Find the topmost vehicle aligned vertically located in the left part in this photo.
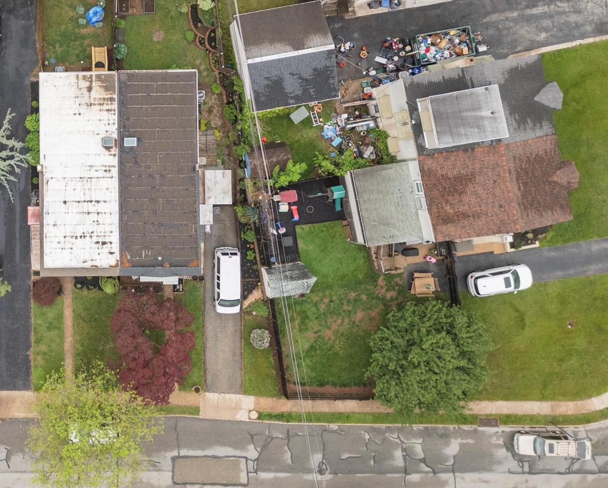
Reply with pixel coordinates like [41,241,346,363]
[215,247,247,315]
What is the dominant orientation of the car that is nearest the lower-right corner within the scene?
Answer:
horizontally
